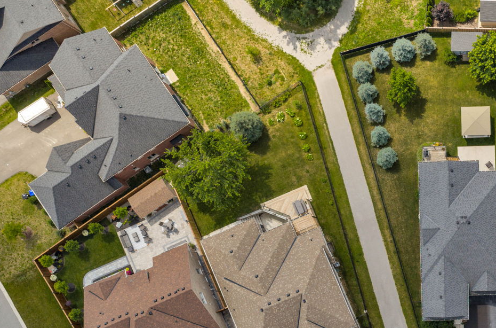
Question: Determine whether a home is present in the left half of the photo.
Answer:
Yes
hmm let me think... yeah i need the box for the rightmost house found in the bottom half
[418,160,496,322]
